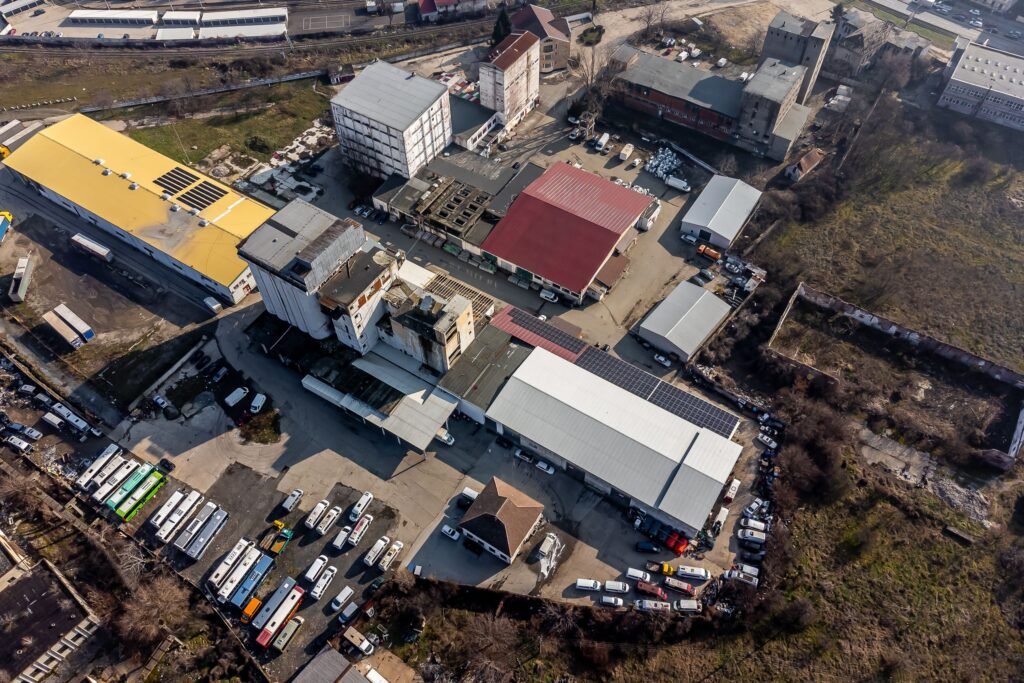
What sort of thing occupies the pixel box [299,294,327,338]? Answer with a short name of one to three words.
silo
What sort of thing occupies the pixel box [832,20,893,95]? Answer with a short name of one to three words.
house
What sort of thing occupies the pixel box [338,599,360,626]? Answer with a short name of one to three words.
vehicle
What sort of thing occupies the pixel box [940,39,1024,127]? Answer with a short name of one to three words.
building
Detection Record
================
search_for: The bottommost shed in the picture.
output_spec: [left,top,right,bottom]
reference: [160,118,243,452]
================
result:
[296,645,372,683]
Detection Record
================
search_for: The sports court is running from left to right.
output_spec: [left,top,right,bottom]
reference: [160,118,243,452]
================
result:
[290,3,424,34]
